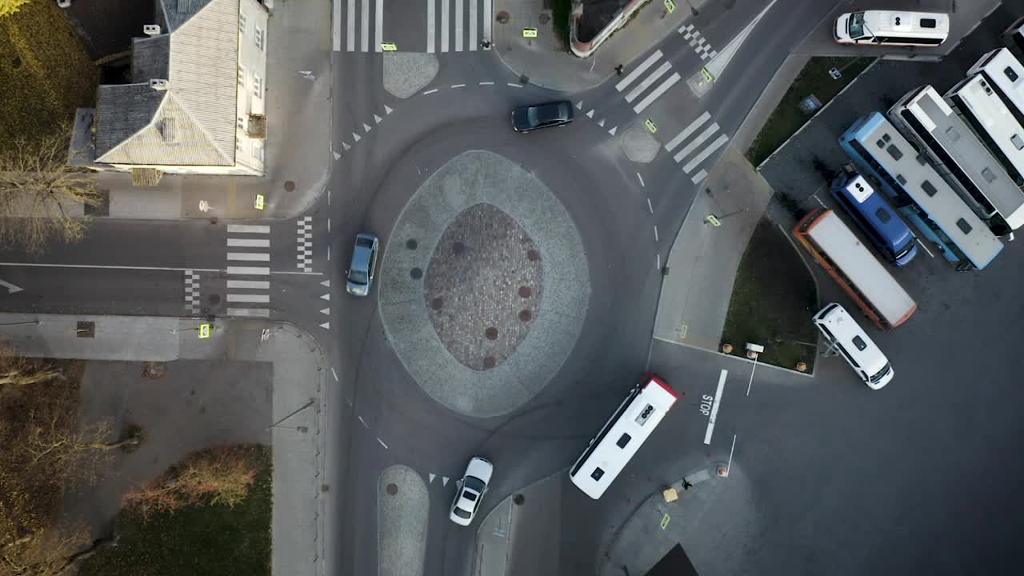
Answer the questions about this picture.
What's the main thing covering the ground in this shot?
paved ground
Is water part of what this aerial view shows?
No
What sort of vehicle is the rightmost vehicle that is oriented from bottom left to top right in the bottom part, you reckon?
bus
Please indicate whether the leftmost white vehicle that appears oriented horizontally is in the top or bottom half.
top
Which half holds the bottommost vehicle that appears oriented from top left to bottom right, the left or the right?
right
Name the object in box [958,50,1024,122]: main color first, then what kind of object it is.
white bus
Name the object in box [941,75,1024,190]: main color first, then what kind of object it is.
white bus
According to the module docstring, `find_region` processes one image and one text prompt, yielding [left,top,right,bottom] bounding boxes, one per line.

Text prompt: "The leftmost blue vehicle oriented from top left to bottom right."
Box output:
[827,170,913,263]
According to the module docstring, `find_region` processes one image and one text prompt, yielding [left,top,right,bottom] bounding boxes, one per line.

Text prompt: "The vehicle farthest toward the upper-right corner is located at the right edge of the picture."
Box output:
[985,17,1024,65]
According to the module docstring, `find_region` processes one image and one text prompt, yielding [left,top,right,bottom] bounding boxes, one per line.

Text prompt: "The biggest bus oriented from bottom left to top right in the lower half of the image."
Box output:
[569,367,683,497]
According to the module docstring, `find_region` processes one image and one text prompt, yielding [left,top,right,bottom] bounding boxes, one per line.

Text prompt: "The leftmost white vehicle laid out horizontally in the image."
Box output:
[831,7,953,50]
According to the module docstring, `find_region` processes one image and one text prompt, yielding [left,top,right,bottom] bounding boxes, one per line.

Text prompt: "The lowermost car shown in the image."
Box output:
[449,455,492,525]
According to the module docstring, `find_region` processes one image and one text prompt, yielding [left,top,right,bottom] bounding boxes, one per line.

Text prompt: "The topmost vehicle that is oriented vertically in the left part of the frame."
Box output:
[345,234,380,296]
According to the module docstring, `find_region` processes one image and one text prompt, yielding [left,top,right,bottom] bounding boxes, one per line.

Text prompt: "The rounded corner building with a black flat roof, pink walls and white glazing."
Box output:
[568,0,663,59]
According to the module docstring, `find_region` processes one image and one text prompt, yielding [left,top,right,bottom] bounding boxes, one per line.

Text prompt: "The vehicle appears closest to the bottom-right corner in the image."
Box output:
[808,301,887,390]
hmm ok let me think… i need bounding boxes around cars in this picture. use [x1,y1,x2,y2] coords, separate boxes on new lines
[449,455,492,525]
[345,234,380,296]
[510,100,575,133]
